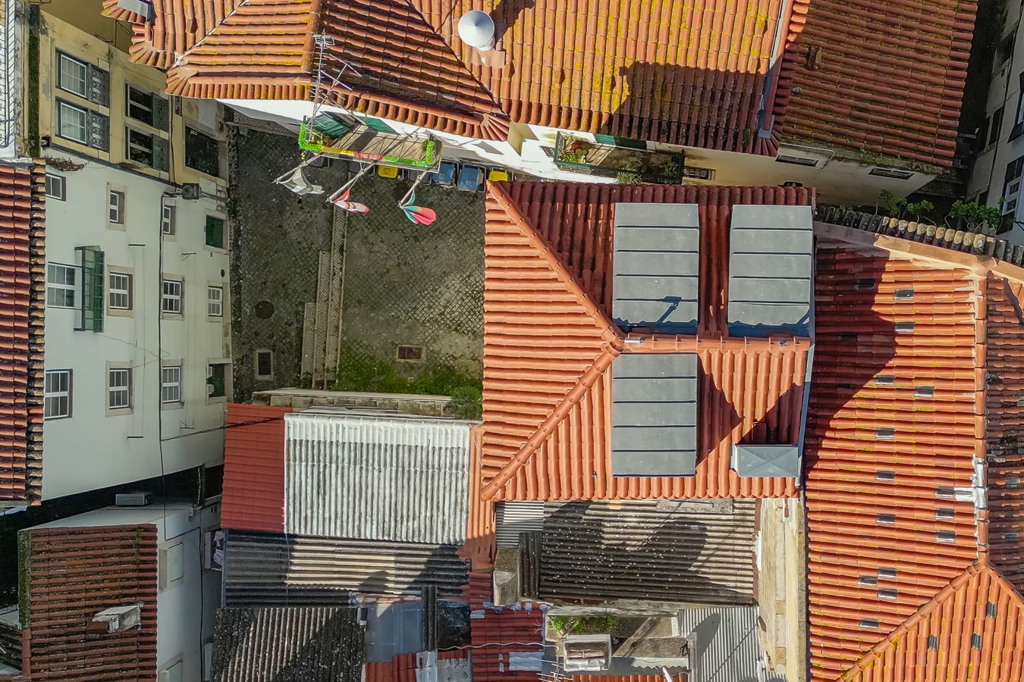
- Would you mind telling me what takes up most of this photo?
buildings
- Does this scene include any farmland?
No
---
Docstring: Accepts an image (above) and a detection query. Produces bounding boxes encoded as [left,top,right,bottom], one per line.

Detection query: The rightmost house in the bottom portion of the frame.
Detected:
[804,207,1024,682]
